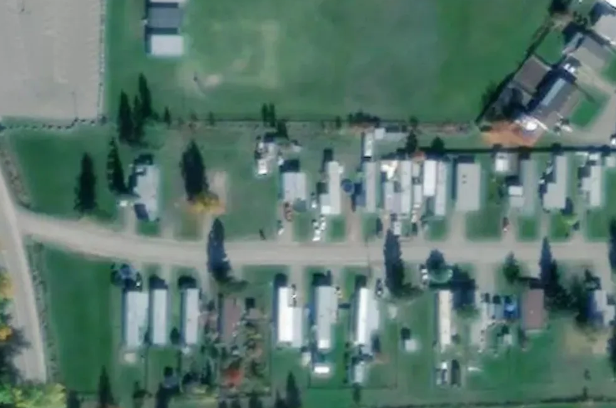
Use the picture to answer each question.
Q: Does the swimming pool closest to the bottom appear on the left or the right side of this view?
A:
right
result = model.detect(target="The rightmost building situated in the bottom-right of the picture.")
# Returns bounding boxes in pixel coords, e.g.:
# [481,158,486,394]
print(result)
[591,290,615,326]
